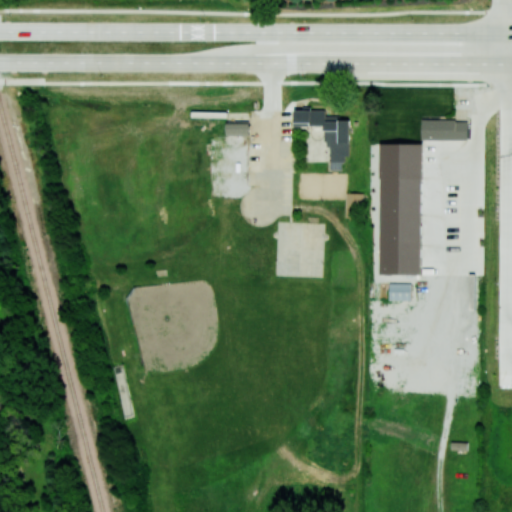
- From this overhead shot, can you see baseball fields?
Yes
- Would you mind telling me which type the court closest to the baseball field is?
basketball court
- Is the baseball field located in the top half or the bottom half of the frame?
bottom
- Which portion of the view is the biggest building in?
right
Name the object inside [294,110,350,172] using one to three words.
house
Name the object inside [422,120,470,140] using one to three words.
building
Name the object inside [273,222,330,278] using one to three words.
basketball court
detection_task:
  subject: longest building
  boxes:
[380,144,421,275]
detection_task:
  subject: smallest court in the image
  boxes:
[300,173,348,200]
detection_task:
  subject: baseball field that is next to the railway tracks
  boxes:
[124,250,330,488]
